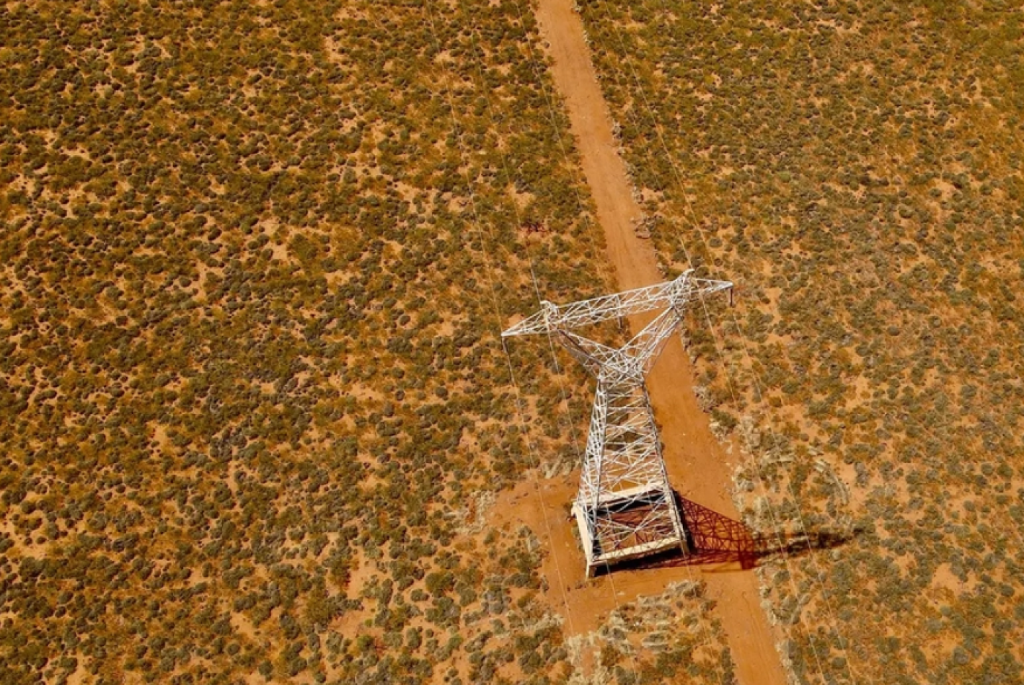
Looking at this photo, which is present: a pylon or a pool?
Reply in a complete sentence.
I can see a pylon in this picture.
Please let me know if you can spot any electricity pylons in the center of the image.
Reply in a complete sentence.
Yes, looking in the center of the image, one can make out an electricity pylon.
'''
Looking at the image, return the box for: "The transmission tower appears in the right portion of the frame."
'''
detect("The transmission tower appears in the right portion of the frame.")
[501,268,735,563]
